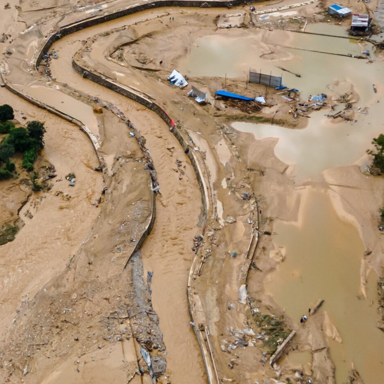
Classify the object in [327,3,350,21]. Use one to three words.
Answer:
shed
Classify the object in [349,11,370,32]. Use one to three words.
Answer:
shed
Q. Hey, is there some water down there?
Yes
